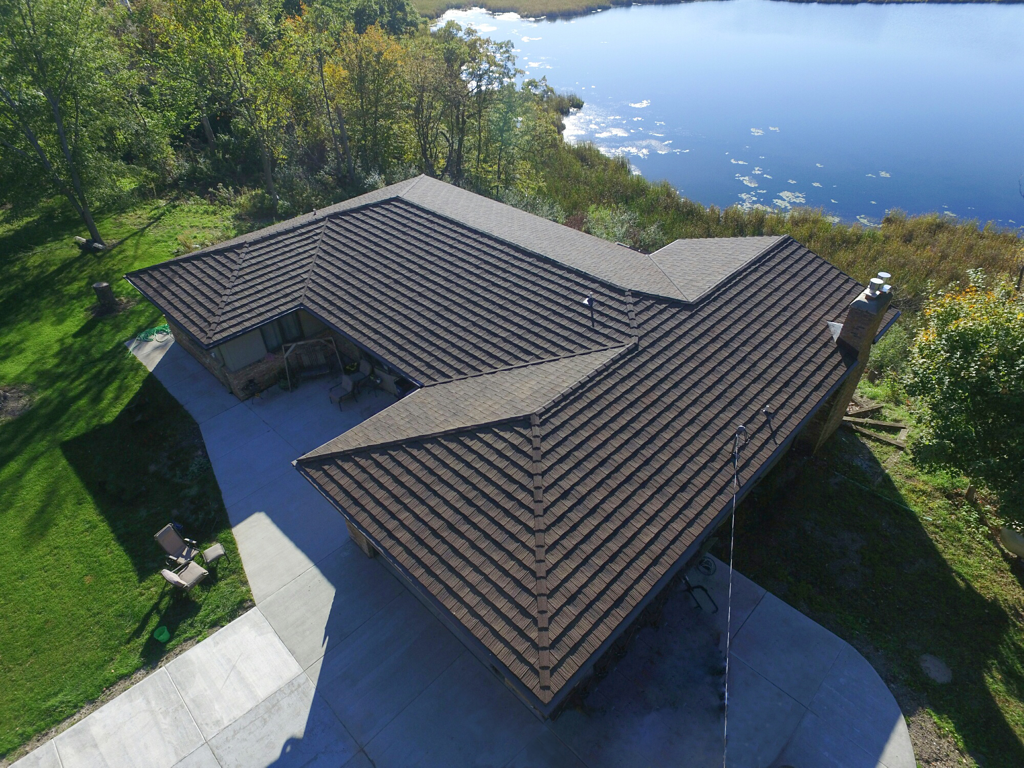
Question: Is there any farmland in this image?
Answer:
No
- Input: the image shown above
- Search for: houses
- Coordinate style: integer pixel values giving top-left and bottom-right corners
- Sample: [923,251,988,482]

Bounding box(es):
[124,173,904,727]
